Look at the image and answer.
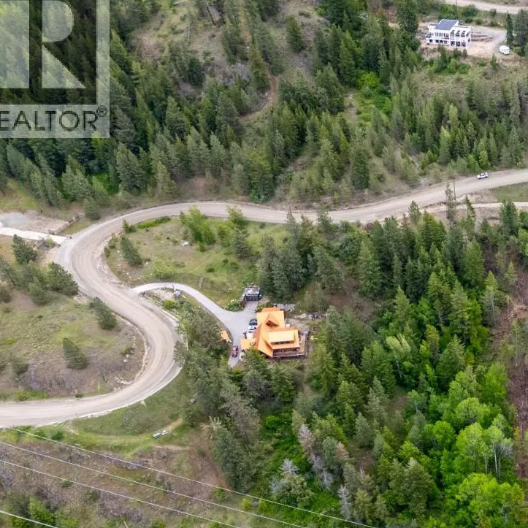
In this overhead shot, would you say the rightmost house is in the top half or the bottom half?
top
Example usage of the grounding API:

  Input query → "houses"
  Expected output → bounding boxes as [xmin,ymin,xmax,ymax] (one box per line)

[428,19,471,49]
[241,303,307,364]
